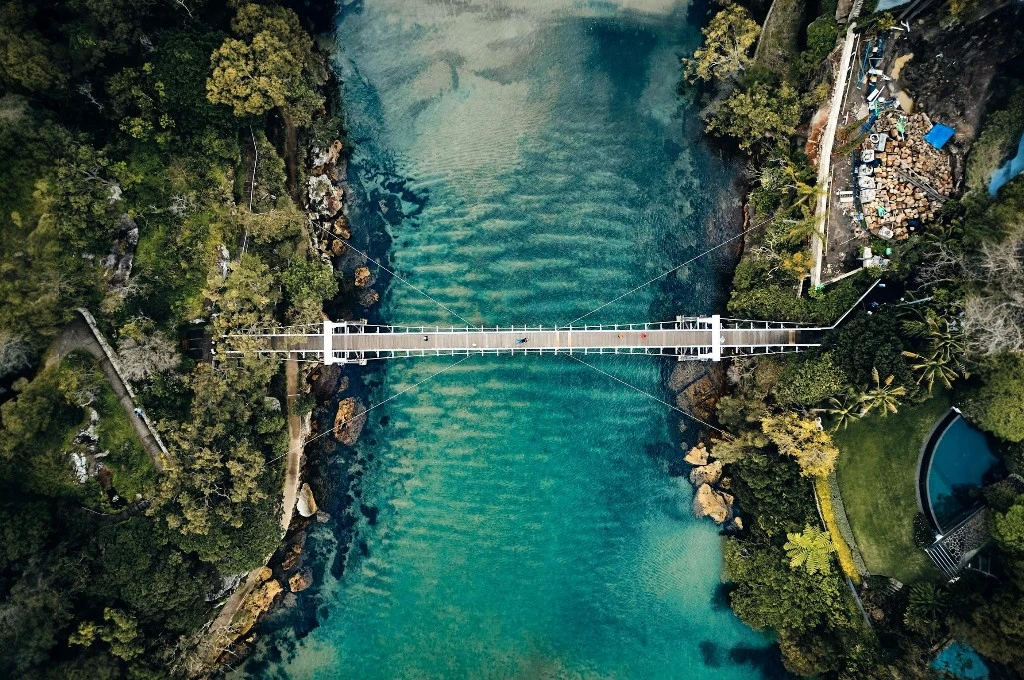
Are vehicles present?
No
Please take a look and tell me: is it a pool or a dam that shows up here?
pool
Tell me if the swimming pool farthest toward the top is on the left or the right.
right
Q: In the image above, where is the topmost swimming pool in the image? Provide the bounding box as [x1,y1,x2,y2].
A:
[911,404,1013,539]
